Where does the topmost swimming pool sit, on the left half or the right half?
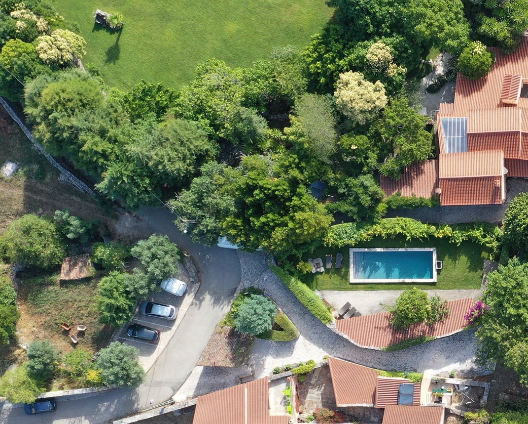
right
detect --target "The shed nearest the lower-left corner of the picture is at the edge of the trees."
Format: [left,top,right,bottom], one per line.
[61,253,101,279]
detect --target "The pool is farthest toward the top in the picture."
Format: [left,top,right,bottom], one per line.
[350,248,442,284]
